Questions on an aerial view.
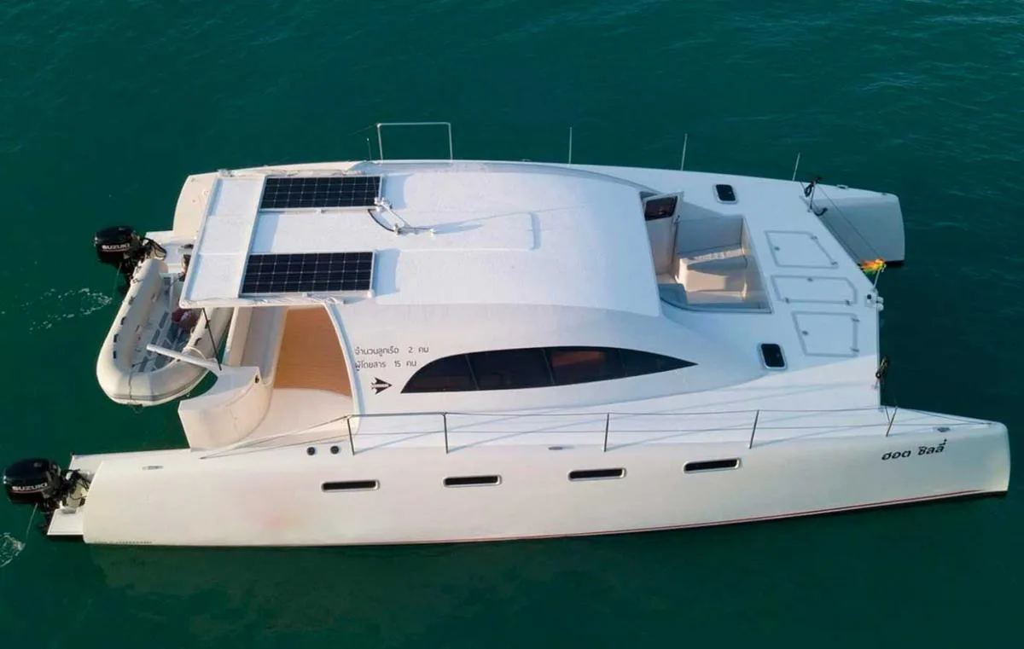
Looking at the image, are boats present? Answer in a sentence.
Yes, the picture does show a boat.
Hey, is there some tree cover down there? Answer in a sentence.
No, the scene doesn't show any tree cover.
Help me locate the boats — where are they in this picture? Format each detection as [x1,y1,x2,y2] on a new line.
[5,124,1006,546]
[98,254,233,438]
